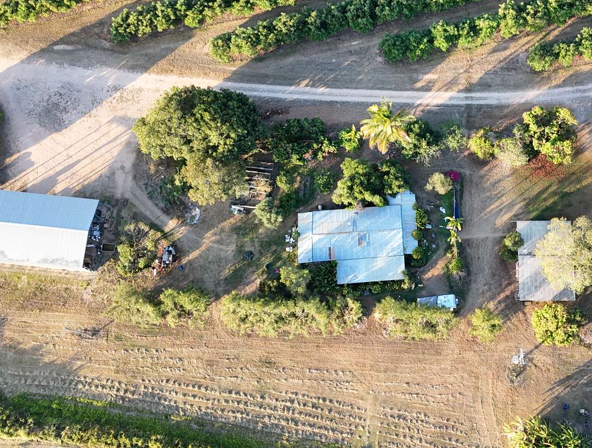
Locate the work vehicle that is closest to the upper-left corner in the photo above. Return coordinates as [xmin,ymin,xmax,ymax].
[230,203,245,215]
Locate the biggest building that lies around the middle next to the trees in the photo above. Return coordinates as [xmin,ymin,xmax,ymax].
[298,192,418,286]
